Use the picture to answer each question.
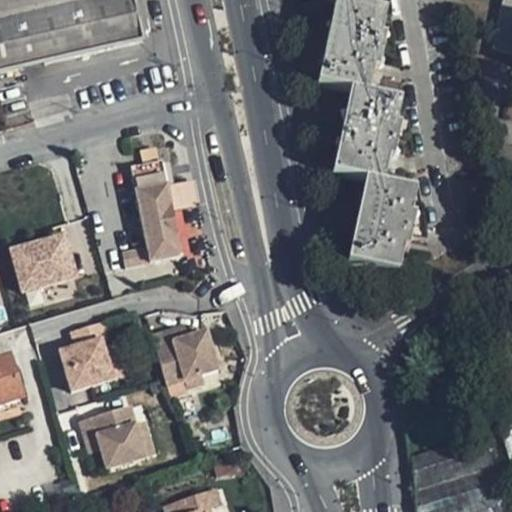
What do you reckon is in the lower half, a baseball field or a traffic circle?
traffic circle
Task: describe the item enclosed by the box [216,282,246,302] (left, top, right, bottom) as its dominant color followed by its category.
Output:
white vehicle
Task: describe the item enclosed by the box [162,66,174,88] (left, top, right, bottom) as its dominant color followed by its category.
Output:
white vehicle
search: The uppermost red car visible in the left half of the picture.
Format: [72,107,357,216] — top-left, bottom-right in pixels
[194,4,206,25]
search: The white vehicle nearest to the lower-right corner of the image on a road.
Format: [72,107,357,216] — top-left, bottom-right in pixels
[352,368,372,394]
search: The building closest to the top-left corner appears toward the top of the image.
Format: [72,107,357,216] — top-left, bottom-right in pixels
[0,0,142,72]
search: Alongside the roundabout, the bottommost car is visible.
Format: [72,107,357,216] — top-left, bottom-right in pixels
[289,452,306,476]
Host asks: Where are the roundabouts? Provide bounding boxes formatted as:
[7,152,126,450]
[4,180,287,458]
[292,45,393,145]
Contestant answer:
[284,366,366,449]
